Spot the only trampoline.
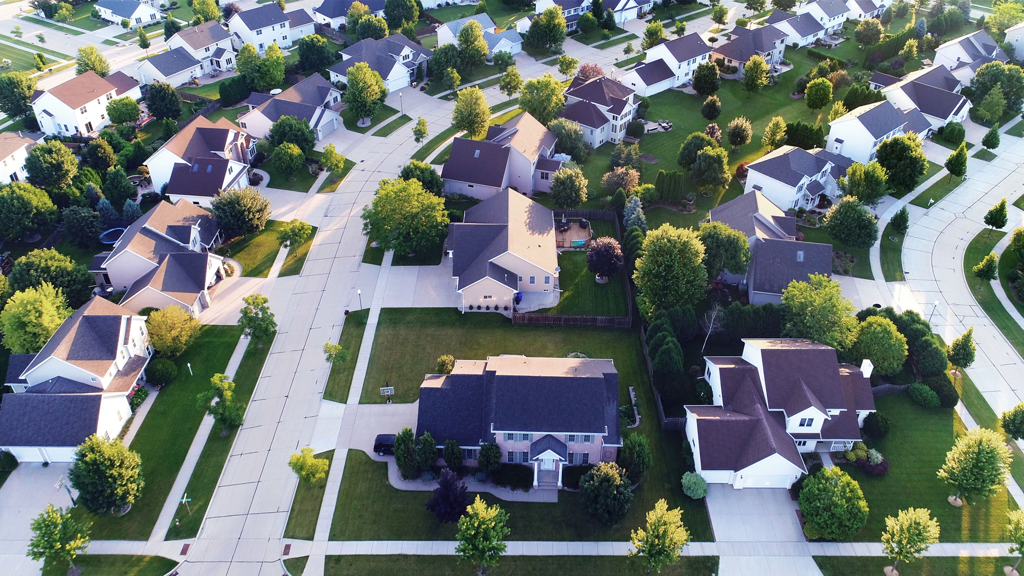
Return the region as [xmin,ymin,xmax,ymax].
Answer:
[97,228,128,247]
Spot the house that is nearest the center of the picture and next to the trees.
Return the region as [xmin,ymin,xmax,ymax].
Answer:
[448,187,560,310]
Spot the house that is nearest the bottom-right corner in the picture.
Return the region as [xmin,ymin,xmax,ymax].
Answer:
[684,339,876,491]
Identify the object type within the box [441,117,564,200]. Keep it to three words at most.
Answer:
house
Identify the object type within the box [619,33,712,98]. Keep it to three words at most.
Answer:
house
